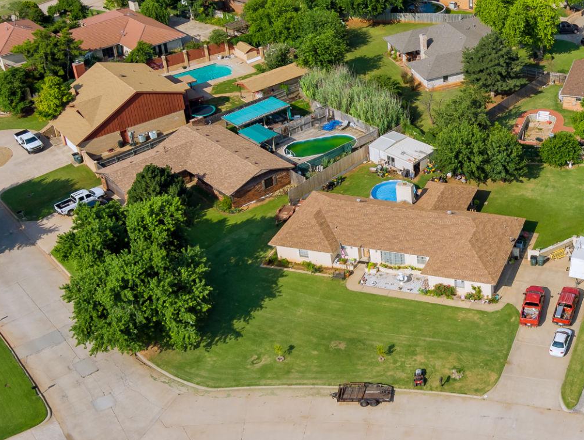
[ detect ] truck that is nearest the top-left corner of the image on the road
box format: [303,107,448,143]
[15,129,42,152]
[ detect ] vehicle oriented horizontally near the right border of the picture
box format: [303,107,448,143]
[556,21,583,34]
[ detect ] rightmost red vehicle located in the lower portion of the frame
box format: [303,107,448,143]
[554,290,579,326]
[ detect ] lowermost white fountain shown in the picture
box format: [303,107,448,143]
[393,269,413,286]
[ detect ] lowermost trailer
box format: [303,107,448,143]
[331,383,389,407]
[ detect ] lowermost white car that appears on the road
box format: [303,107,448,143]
[550,326,575,361]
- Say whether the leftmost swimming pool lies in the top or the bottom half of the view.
top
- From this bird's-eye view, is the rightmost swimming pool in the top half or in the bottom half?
top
